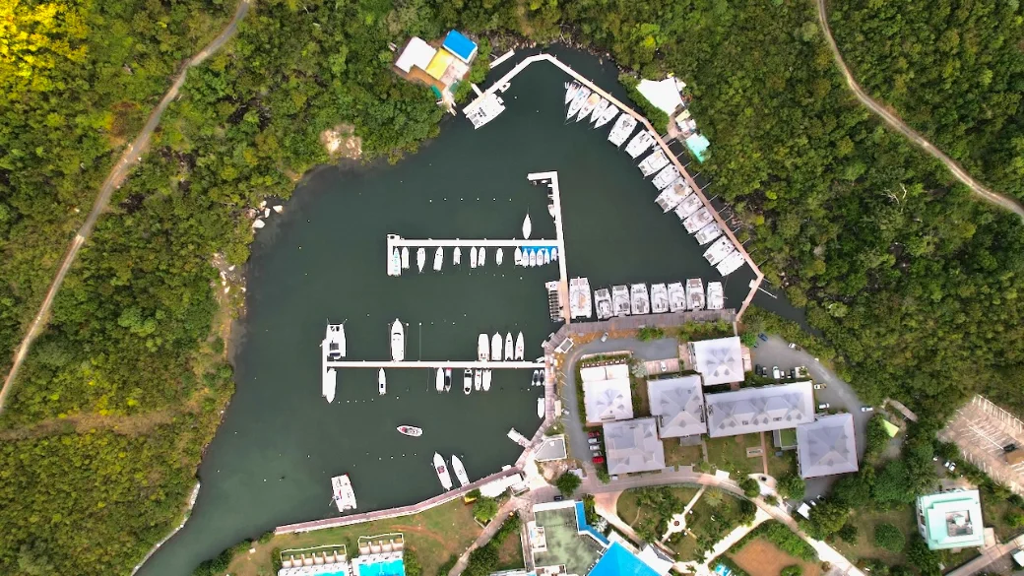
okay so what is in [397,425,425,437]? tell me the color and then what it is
white boat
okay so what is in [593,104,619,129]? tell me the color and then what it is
white boat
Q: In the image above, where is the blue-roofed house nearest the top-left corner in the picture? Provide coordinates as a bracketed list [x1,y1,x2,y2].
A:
[443,30,477,63]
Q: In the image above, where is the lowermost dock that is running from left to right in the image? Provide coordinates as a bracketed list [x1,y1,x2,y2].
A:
[320,339,545,396]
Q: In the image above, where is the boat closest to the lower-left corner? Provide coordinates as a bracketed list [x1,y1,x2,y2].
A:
[331,473,359,513]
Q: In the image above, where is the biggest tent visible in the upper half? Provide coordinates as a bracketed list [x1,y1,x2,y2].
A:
[635,77,684,118]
